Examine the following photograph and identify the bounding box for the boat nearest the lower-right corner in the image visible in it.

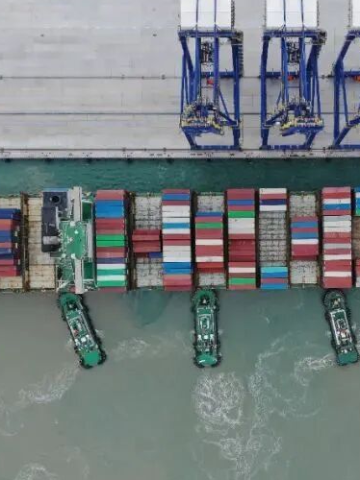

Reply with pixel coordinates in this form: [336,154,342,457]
[322,288,360,368]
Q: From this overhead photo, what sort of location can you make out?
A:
port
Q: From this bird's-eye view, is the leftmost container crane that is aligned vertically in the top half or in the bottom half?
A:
top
